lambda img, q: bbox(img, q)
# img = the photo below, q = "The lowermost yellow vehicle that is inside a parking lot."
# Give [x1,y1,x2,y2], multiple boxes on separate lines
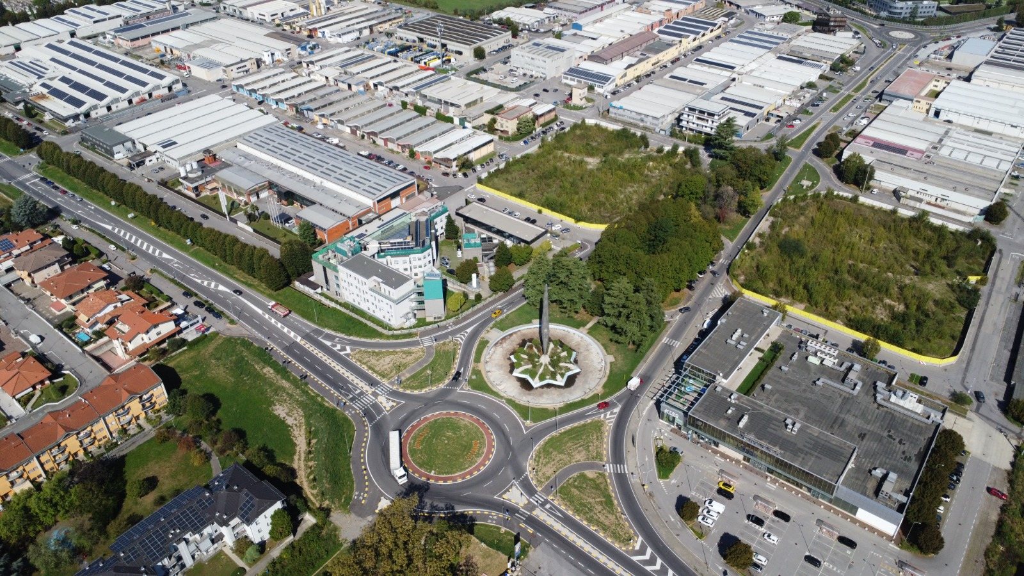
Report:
[718,481,736,494]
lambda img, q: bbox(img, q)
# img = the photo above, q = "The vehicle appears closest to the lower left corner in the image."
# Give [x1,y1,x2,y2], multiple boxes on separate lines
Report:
[27,332,41,345]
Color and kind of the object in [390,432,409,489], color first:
white vehicle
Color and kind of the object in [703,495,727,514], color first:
white vehicle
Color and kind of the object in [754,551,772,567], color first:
white car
